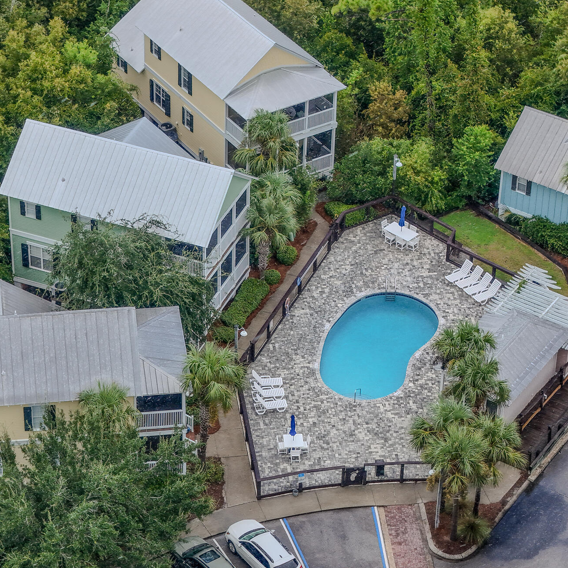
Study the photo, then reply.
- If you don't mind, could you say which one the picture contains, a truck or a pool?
pool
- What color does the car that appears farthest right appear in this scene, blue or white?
white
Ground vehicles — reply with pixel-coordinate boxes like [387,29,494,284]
[222,517,307,568]
[168,535,237,568]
